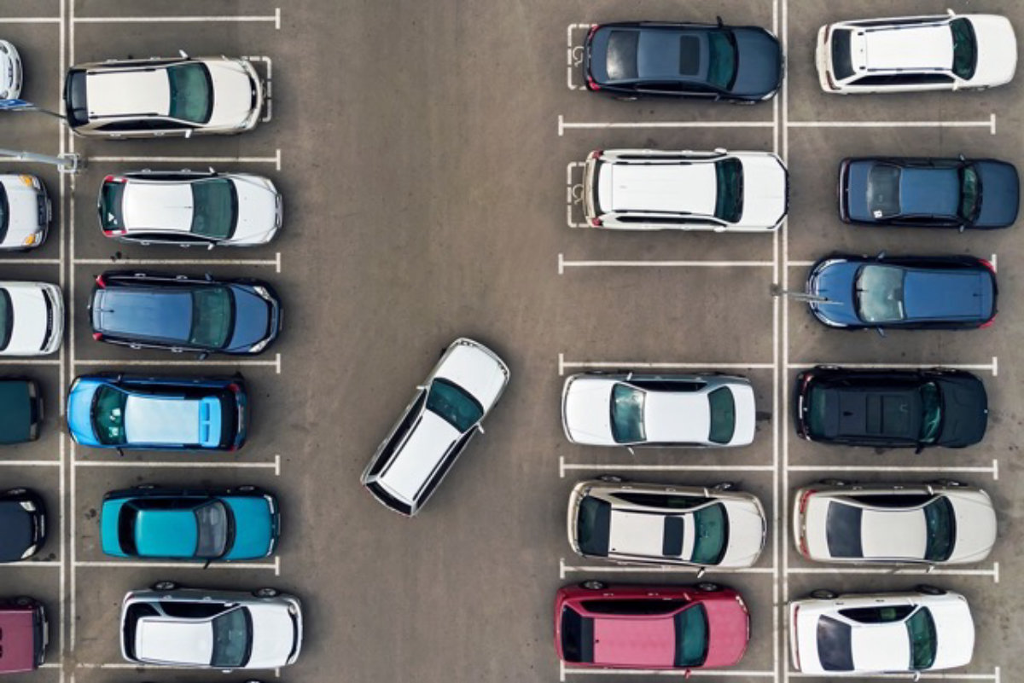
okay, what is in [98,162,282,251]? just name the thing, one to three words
car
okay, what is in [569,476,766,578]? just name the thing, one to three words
car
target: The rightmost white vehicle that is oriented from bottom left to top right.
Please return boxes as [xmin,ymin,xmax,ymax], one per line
[359,337,510,520]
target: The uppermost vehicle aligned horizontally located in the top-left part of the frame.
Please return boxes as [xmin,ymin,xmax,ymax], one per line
[72,47,266,139]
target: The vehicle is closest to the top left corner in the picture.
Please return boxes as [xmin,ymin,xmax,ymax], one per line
[0,34,26,99]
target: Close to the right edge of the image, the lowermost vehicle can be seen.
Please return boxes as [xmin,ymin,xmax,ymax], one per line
[790,589,975,683]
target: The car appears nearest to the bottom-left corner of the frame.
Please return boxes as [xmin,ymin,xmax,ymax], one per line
[0,583,47,667]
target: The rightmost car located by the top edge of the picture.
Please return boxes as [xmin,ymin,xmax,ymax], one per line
[814,4,1018,94]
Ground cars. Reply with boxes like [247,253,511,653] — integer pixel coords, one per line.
[98,482,280,570]
[0,583,47,667]
[359,337,510,520]
[557,579,751,679]
[0,278,66,355]
[585,12,784,104]
[585,141,789,238]
[98,162,282,251]
[569,476,766,578]
[72,47,266,139]
[797,361,989,457]
[563,367,757,455]
[0,175,52,250]
[66,371,248,458]
[838,148,1020,235]
[0,476,49,558]
[790,589,975,683]
[0,369,44,442]
[793,479,997,575]
[118,579,304,681]
[814,4,1018,94]
[0,34,26,99]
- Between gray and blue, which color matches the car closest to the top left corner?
gray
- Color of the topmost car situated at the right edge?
white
